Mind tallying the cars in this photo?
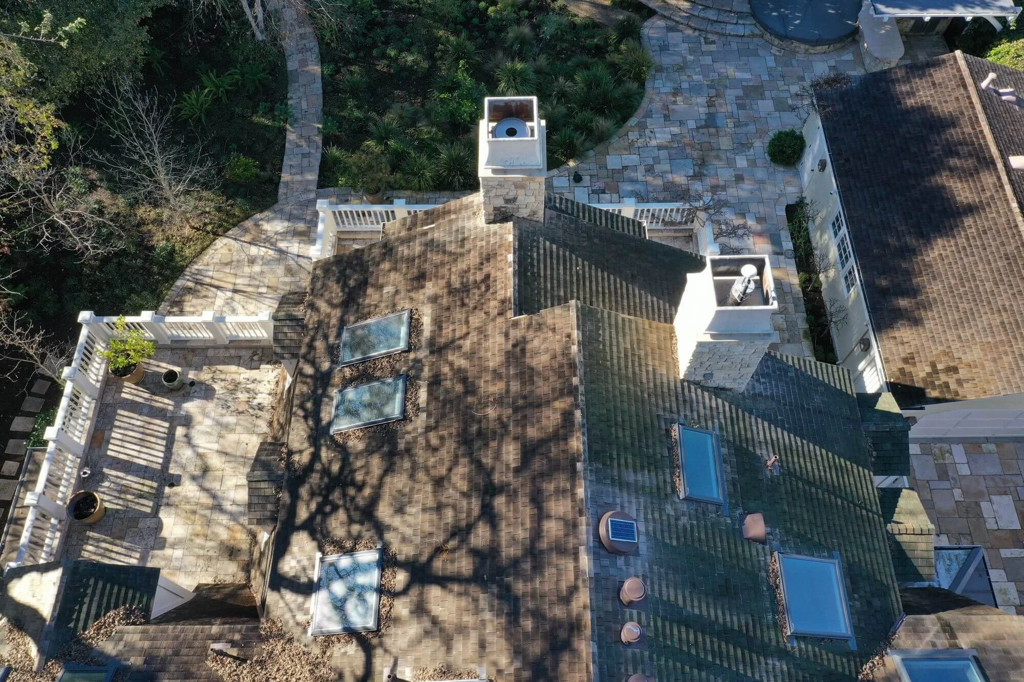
0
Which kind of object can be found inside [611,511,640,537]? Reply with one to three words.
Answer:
solar panel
